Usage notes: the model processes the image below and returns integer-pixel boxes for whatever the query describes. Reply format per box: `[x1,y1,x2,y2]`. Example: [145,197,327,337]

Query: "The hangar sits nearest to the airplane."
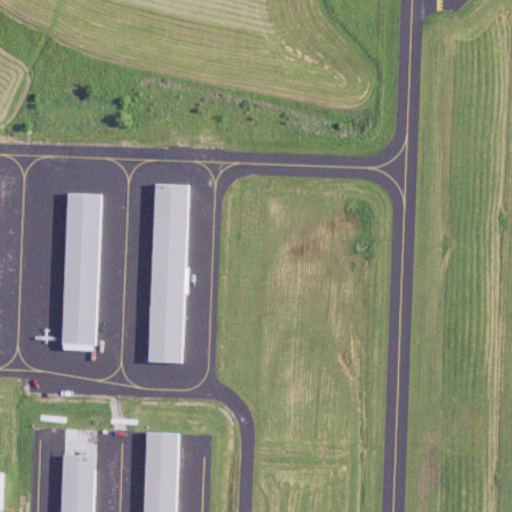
[62,194,104,353]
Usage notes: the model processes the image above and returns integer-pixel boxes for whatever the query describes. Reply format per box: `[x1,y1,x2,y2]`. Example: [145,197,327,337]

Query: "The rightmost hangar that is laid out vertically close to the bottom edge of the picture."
[144,432,181,512]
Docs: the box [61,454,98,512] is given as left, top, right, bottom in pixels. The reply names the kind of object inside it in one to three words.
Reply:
hangar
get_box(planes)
[34,328,56,344]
